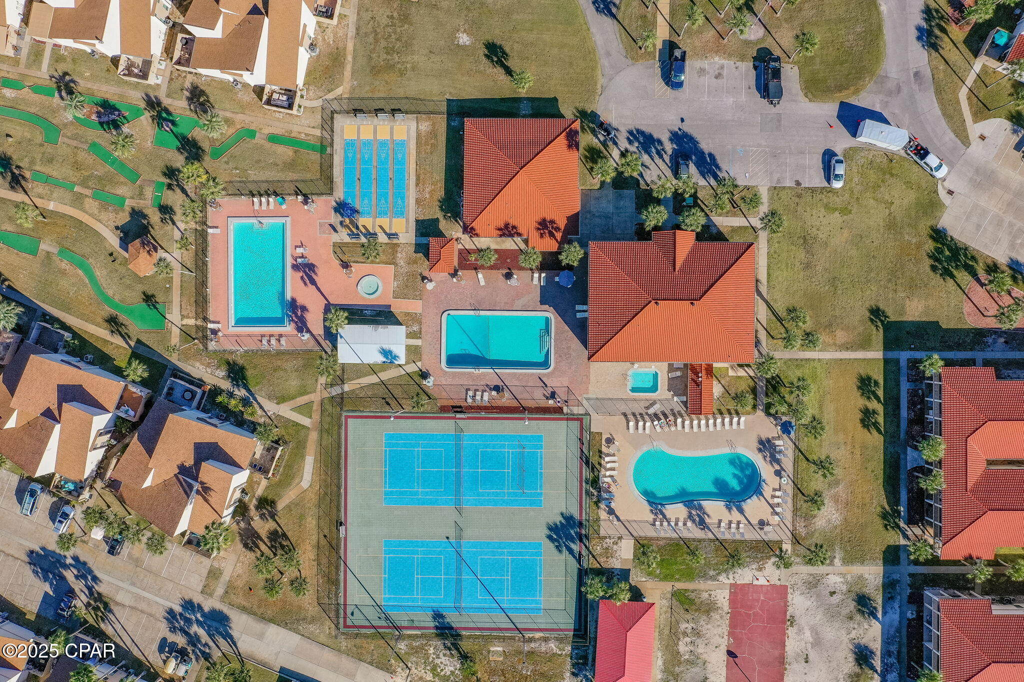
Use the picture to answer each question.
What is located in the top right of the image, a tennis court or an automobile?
automobile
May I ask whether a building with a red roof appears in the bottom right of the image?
Yes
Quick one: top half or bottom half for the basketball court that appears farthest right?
bottom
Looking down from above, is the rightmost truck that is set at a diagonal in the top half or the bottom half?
top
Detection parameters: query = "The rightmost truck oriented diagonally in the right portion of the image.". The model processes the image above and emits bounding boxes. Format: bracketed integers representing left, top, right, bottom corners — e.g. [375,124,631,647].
[906,140,947,178]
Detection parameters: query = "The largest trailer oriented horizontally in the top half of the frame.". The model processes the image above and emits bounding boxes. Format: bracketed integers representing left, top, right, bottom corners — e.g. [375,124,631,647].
[858,117,912,148]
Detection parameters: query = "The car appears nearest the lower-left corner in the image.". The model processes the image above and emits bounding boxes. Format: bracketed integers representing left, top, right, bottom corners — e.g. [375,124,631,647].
[54,592,80,625]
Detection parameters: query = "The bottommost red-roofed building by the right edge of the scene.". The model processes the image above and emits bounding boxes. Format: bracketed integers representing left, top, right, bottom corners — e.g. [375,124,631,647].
[923,591,1024,682]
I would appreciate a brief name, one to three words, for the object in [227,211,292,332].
swimming pool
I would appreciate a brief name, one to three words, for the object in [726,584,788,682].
basketball court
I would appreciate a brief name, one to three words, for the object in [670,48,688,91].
vehicle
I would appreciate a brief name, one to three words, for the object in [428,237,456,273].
building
